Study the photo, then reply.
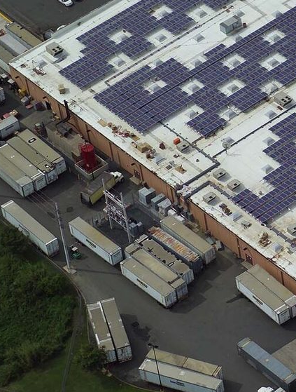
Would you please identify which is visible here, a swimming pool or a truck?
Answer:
truck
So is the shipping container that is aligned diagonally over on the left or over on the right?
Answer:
right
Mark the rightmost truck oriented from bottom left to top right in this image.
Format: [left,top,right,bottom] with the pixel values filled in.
[78,172,130,210]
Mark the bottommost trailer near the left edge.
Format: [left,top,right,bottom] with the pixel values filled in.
[2,199,60,255]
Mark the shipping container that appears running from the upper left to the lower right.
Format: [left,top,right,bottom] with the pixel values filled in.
[237,336,296,392]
